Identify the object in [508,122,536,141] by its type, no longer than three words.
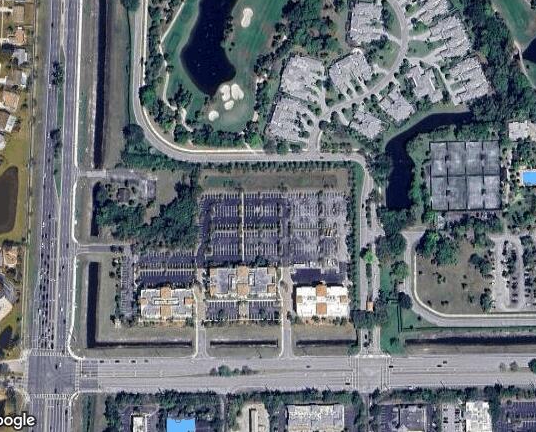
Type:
building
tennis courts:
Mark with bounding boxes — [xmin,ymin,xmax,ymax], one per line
[448,177,463,208]
[483,177,499,208]
[431,142,445,174]
[431,177,445,208]
[483,142,499,174]
[466,142,481,174]
[466,177,481,208]
[448,142,463,174]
